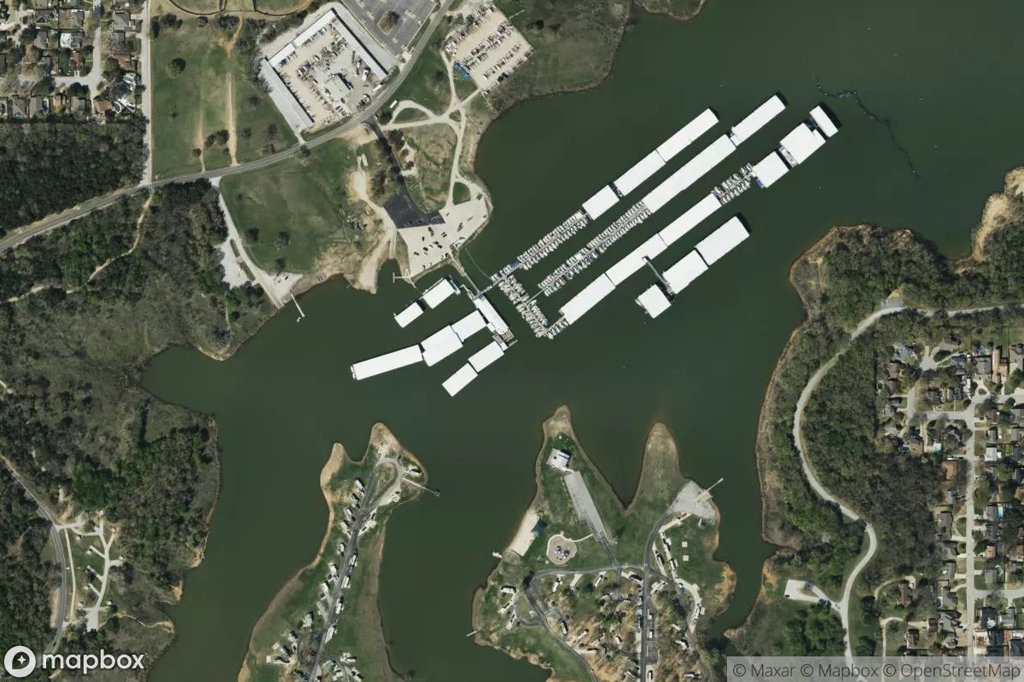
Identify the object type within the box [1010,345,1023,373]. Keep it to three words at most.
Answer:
house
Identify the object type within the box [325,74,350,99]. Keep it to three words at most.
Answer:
building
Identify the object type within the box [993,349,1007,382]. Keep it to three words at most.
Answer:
house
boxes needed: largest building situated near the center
[474,295,509,335]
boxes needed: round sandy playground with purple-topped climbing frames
[547,534,577,565]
